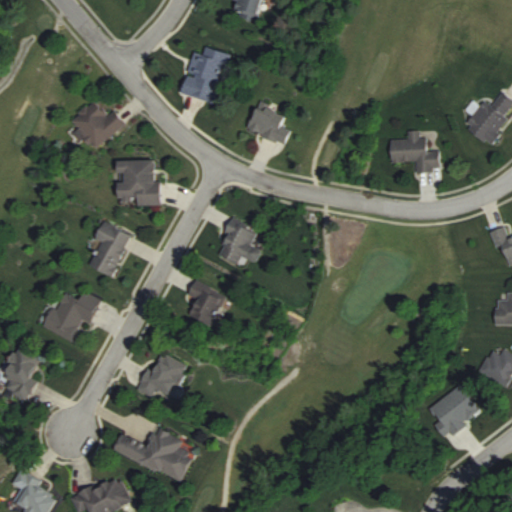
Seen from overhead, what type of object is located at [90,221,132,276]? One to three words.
house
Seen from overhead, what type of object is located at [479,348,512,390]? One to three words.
house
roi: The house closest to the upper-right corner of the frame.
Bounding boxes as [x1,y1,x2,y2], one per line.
[467,88,512,144]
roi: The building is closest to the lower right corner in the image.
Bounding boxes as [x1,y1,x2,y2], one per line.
[430,388,476,437]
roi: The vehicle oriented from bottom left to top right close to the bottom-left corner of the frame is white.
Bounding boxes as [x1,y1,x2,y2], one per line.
[82,438,94,454]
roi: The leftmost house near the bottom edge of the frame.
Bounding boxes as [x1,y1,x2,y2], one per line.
[13,471,55,512]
